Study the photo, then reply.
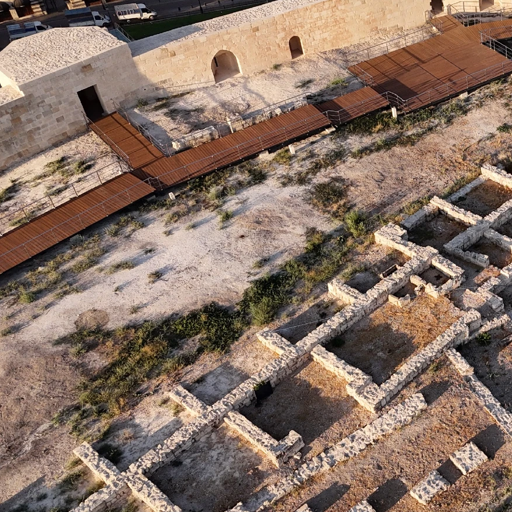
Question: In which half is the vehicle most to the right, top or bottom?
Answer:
top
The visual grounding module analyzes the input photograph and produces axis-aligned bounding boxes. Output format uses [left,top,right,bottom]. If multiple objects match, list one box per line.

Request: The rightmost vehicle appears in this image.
[110,0,156,21]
